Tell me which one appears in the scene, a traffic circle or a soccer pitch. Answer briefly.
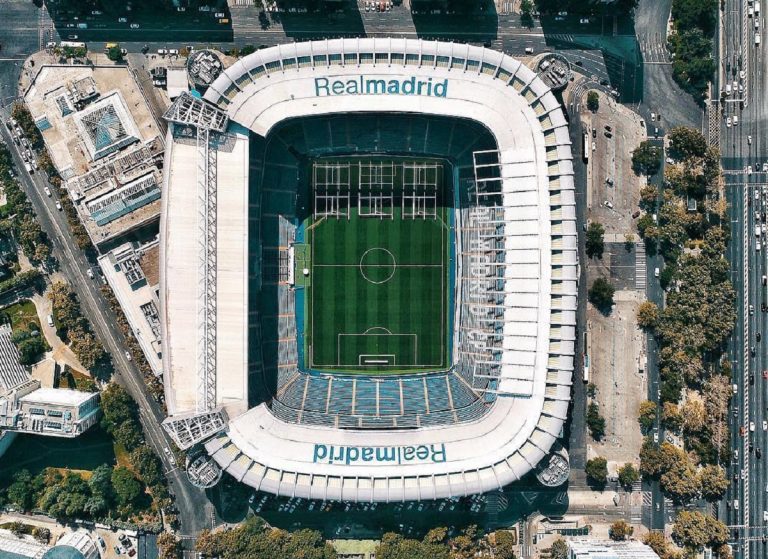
soccer pitch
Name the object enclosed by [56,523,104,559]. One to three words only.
building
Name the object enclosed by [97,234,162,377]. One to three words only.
building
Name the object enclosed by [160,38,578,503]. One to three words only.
stadium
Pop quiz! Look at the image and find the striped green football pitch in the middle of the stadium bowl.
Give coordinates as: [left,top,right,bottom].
[298,157,455,374]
